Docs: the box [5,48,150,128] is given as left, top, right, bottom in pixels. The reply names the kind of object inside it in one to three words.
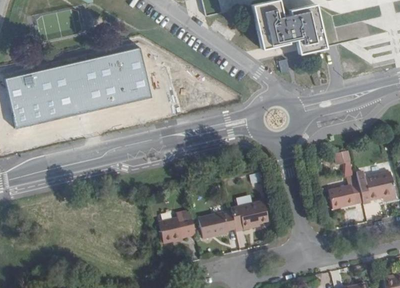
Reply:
shed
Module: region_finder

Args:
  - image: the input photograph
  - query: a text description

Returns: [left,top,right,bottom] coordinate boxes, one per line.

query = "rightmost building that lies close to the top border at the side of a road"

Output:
[250,0,328,55]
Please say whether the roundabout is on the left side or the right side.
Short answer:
right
